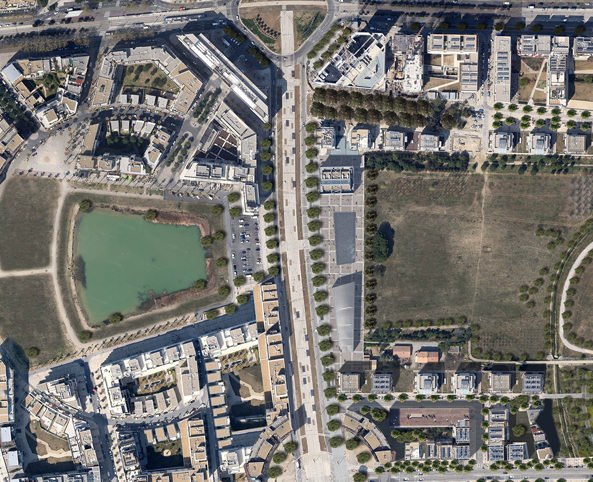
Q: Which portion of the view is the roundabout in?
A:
top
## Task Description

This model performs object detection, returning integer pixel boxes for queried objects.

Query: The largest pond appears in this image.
[78,210,206,325]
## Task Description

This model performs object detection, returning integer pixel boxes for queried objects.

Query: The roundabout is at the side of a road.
[231,0,339,59]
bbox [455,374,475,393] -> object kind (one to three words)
house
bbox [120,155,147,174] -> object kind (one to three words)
building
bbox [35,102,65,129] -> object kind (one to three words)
building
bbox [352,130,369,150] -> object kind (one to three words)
house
